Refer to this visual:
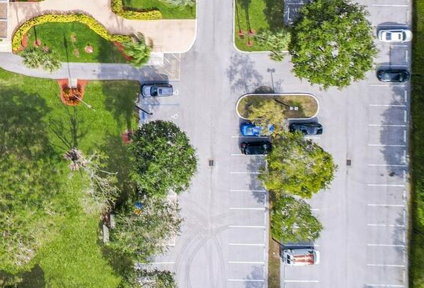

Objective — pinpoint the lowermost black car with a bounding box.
[238,139,272,155]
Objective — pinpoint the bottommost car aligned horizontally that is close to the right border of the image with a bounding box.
[375,68,410,83]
